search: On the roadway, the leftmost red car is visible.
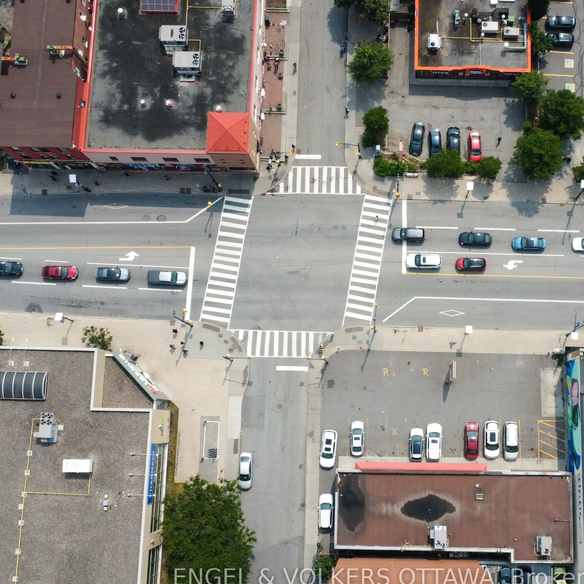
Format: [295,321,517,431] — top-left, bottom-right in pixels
[40,264,80,280]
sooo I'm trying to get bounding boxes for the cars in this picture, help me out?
[349,421,365,457]
[426,422,443,461]
[40,264,80,280]
[571,237,584,252]
[483,420,502,459]
[428,127,442,156]
[392,226,426,242]
[406,252,442,269]
[549,30,575,47]
[499,566,515,584]
[553,566,570,584]
[459,230,493,246]
[469,131,483,163]
[519,566,533,584]
[464,422,481,459]
[408,428,426,461]
[319,429,338,469]
[0,259,24,276]
[455,255,486,270]
[512,235,546,250]
[409,120,427,156]
[238,452,254,490]
[317,493,334,531]
[503,421,521,461]
[545,13,577,30]
[445,125,462,156]
[93,266,132,281]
